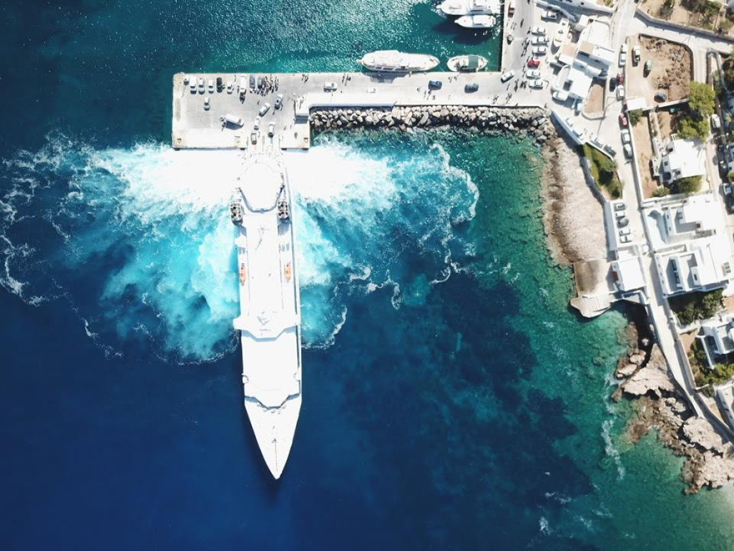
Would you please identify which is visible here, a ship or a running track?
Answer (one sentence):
The one in the frame is a ship.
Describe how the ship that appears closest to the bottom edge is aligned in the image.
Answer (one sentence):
The ship that appears closest to the bottom edge has been laid out up and down relative to the frame.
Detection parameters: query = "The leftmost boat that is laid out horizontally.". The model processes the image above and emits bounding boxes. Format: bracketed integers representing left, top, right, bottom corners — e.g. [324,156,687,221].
[359,49,439,72]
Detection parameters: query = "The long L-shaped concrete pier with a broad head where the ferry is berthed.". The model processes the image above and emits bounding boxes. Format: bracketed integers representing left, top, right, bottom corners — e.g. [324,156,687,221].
[172,72,548,150]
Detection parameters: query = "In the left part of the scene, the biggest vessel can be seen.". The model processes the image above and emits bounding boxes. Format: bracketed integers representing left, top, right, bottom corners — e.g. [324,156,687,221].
[231,135,301,479]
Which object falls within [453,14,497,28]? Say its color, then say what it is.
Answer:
white boat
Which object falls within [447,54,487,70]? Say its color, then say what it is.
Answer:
white boat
